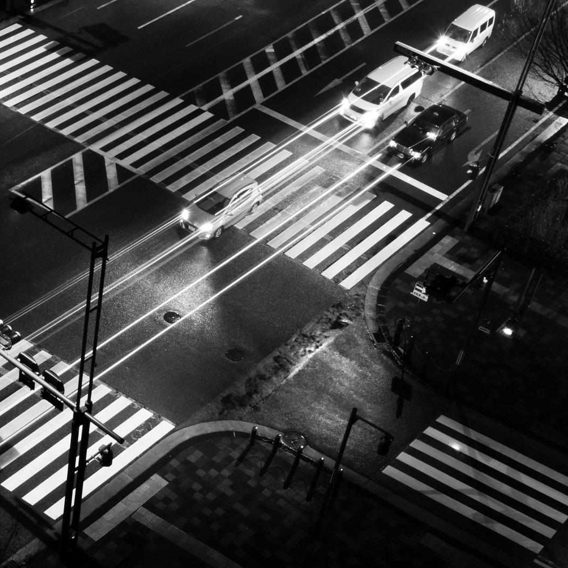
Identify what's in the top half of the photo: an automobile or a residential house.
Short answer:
automobile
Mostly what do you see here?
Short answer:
paved ground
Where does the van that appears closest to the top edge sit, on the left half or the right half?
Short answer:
right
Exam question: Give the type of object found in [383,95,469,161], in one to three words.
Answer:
car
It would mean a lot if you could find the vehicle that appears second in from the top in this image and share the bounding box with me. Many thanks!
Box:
[332,53,420,126]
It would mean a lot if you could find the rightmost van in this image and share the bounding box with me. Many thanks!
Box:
[430,0,505,58]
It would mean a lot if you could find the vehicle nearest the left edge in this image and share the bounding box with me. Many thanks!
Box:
[177,165,266,239]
